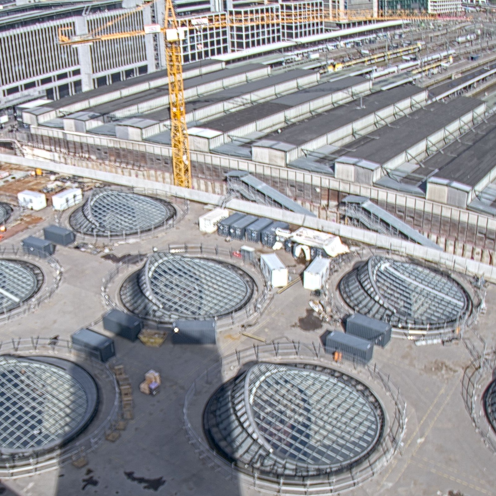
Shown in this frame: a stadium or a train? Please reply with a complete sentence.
There is a train in the scene.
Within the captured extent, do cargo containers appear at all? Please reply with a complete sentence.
Yes, I can see a cargo container in this picture.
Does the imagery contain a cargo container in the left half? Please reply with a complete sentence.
Yes, a cargo container can be seen in the left half.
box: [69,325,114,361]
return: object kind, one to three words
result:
shipping container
